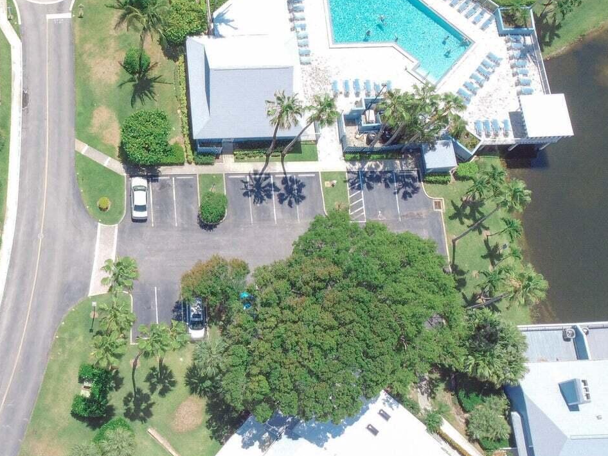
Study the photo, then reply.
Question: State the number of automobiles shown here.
2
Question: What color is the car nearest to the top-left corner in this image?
white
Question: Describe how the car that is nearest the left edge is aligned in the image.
up and down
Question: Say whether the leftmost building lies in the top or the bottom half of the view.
top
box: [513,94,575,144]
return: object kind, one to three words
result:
building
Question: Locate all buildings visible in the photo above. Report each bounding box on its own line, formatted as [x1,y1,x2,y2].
[186,35,305,155]
[493,321,608,456]
[218,394,454,456]
[513,94,575,144]
[417,139,457,174]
